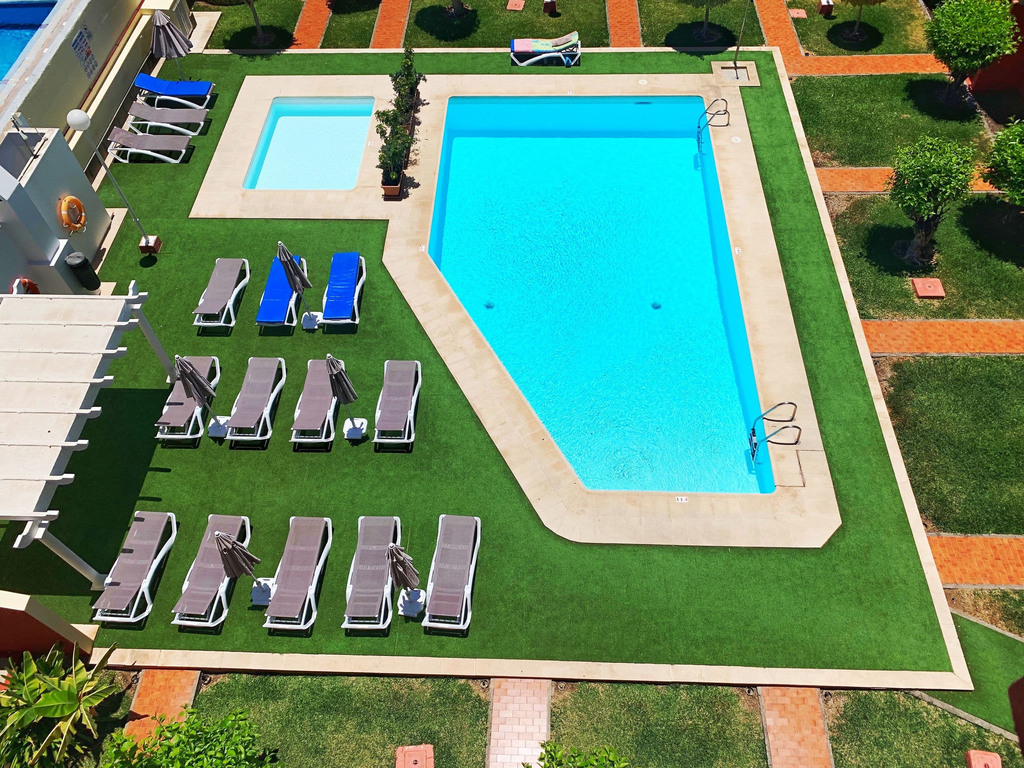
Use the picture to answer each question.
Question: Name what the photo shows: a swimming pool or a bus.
swimming pool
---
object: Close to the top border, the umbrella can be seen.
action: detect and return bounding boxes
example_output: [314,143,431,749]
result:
[147,10,194,80]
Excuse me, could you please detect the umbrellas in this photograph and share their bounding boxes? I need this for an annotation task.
[380,542,426,616]
[282,242,325,331]
[171,356,233,439]
[210,531,279,605]
[147,10,194,80]
[323,354,368,440]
